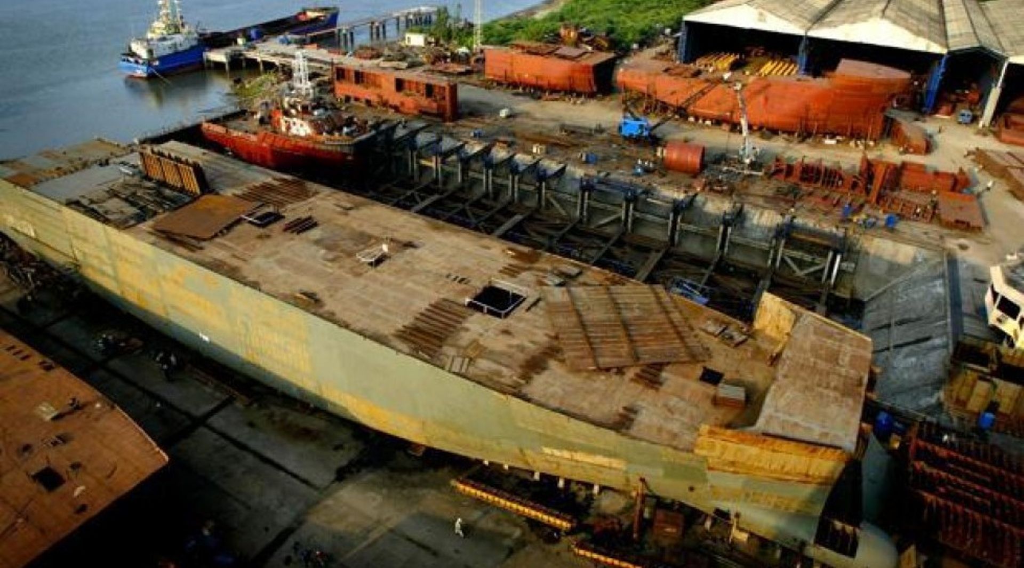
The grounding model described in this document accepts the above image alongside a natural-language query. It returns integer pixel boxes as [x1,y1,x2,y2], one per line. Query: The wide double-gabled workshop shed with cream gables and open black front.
[676,0,950,111]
